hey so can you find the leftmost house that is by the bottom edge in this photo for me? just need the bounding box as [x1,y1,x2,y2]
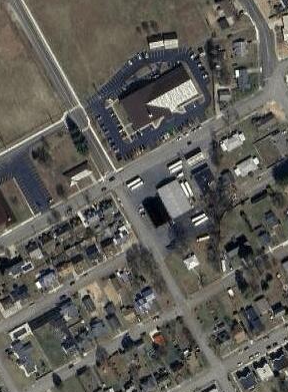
[11,331,39,374]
